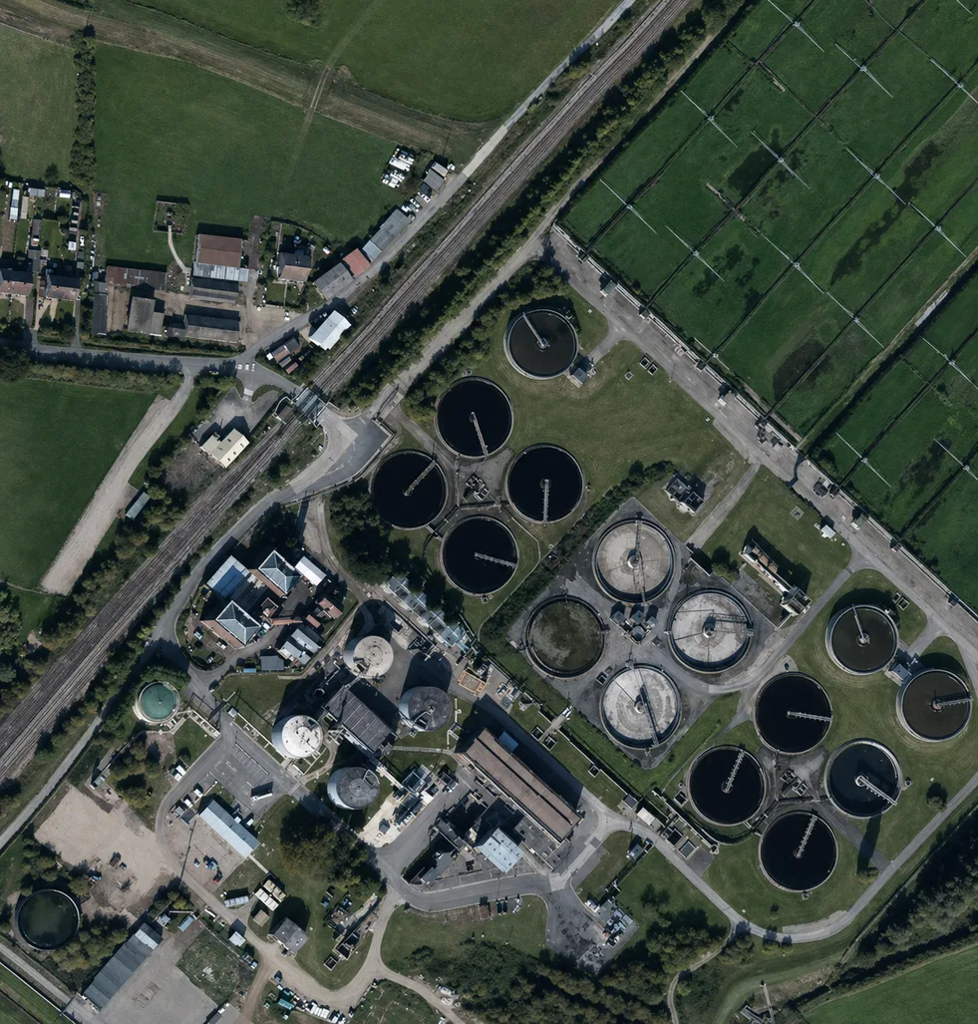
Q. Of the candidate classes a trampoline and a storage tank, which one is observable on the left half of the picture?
storage tank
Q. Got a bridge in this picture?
Yes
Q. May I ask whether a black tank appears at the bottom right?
Yes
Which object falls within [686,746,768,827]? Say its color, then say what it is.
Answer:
black storage tank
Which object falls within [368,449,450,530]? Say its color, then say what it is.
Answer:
black storage tank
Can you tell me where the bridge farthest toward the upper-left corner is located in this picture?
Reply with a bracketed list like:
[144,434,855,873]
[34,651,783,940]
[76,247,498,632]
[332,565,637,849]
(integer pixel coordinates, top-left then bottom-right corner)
[293,388,326,428]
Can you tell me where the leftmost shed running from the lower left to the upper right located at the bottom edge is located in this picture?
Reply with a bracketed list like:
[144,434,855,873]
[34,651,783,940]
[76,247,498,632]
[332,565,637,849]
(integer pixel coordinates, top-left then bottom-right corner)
[81,936,151,1010]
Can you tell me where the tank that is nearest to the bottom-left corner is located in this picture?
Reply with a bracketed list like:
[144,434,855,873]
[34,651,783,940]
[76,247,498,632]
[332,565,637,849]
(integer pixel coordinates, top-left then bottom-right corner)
[12,888,81,956]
